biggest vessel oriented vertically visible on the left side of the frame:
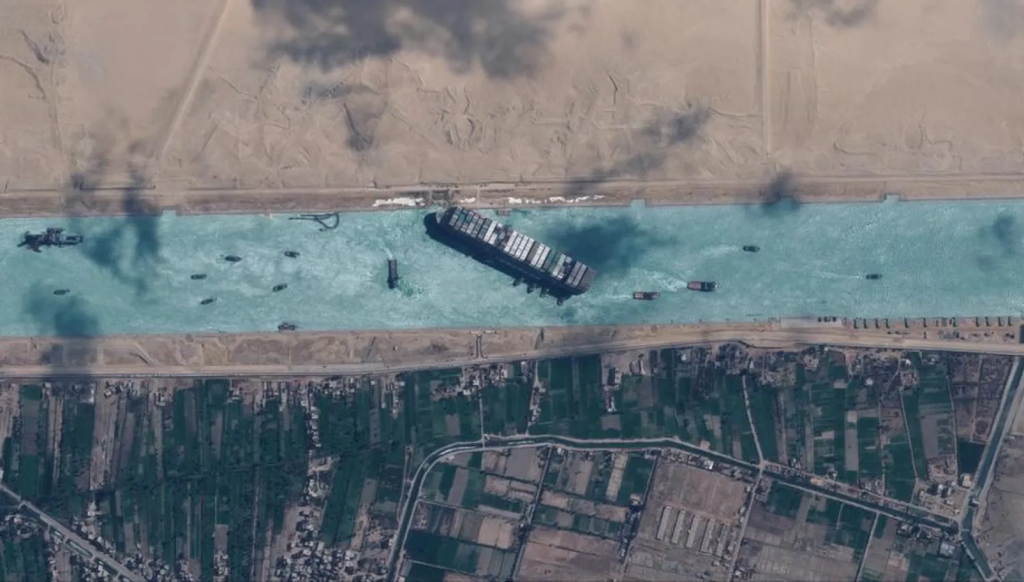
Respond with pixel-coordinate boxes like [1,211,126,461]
[389,257,401,287]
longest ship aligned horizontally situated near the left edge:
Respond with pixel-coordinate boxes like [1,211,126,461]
[17,222,83,252]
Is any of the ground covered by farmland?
Yes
